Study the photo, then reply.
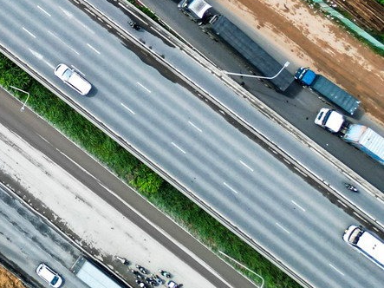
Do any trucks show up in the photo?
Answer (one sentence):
Yes, a truck is visible in the scene.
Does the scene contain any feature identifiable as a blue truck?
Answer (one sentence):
Yes, you can see a blue truck in this photo.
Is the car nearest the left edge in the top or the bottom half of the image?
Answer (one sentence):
The car nearest the left edge sits in the bottom half of the picture.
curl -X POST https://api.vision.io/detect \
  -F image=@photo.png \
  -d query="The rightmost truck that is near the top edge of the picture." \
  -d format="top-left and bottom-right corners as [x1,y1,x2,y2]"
[166,0,296,92]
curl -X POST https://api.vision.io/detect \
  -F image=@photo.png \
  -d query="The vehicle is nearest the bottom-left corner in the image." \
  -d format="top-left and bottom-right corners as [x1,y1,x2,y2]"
[31,258,62,287]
